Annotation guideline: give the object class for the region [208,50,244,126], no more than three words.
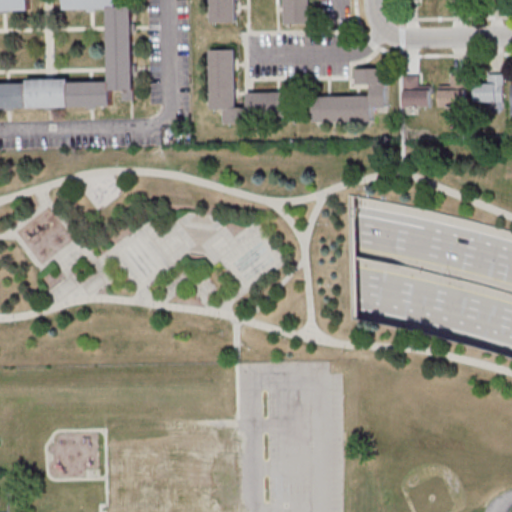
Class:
building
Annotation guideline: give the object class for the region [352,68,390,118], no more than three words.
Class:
building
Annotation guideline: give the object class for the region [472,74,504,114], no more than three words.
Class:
house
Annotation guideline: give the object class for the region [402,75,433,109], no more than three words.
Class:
house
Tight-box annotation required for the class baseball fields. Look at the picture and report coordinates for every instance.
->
[403,464,466,512]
